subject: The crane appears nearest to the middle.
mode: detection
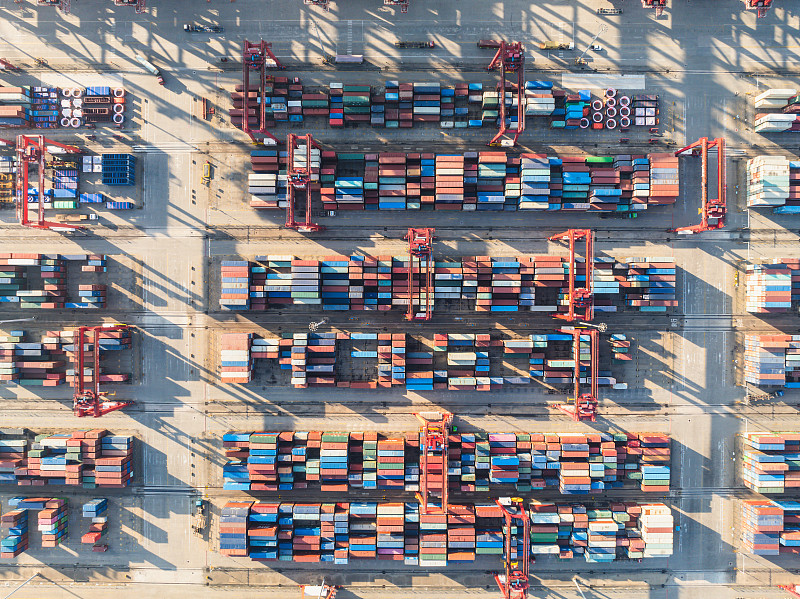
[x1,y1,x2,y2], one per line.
[401,225,436,323]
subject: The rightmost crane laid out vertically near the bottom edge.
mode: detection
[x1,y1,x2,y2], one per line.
[489,496,530,599]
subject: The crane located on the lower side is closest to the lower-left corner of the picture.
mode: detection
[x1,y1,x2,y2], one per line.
[76,326,138,421]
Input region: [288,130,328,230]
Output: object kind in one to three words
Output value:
crane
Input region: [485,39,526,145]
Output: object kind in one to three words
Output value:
crane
